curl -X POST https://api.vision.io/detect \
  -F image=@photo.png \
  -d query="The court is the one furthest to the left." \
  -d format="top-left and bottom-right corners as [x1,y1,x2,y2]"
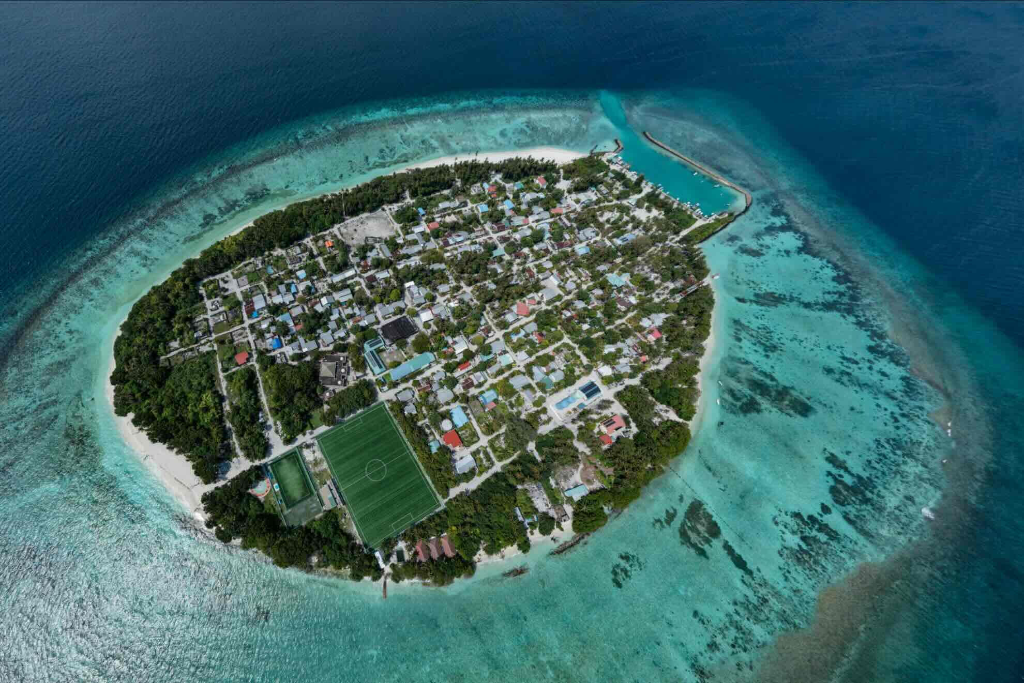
[266,448,322,527]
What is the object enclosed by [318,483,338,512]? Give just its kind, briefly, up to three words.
building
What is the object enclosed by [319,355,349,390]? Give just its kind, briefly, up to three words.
building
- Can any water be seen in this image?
Yes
